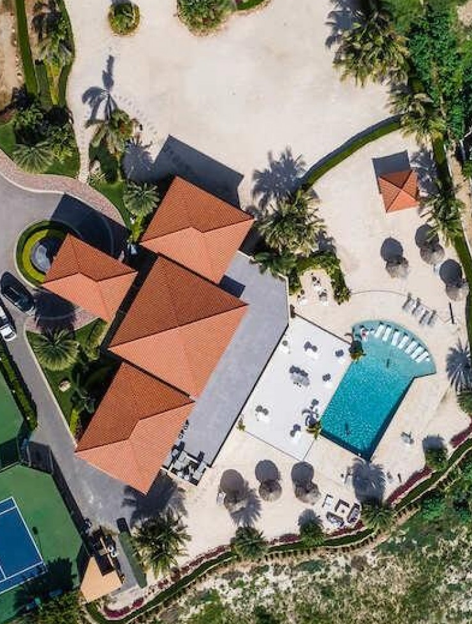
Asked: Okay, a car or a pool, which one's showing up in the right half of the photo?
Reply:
pool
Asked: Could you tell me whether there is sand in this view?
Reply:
Yes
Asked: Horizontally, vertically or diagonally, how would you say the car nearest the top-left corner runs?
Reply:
diagonally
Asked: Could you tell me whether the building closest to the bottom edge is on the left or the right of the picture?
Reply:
left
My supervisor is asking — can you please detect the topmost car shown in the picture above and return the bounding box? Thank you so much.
[2,279,36,314]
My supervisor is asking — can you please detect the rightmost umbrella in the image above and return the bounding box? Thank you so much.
[445,277,467,301]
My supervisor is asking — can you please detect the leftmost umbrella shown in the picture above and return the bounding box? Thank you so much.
[223,489,244,512]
